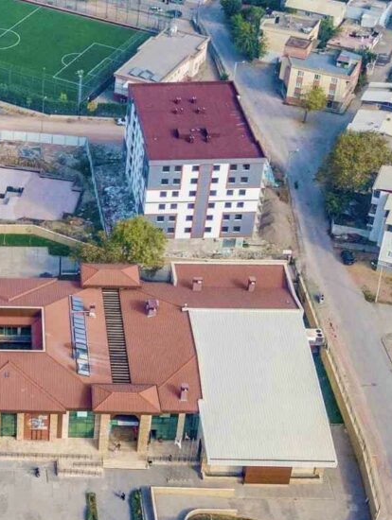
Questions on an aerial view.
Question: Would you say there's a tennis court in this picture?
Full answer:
No, there appears to be no tennis court in this shot.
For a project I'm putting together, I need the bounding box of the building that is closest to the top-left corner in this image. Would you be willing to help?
[113,28,208,100]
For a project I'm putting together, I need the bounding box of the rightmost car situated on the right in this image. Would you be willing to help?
[367,252,379,267]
